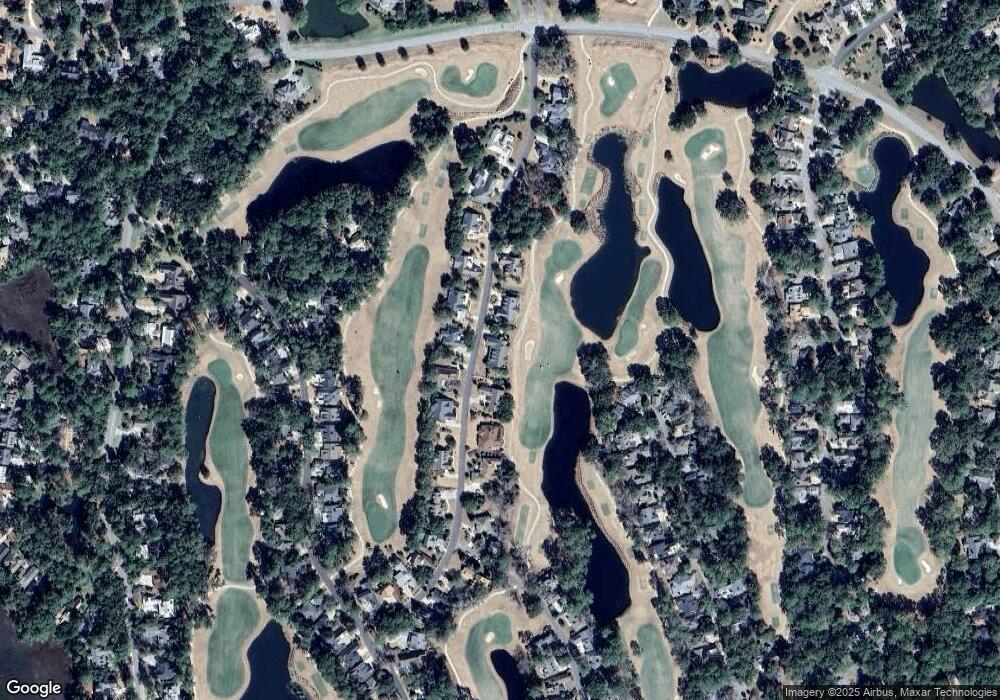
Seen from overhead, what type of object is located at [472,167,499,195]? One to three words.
house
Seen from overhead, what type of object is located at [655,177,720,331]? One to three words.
pond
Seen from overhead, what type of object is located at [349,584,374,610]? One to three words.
house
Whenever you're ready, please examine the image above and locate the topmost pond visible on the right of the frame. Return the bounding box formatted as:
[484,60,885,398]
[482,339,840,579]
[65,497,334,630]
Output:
[679,62,773,107]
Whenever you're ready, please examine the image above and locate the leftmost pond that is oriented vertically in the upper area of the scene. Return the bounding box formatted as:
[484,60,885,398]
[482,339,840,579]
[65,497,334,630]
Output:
[570,133,649,340]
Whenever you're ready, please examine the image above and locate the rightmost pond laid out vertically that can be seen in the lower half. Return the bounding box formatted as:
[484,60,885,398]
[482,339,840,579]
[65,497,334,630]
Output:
[542,380,630,622]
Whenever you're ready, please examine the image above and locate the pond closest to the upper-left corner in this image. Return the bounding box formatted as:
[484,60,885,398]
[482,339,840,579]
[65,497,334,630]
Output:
[300,0,368,37]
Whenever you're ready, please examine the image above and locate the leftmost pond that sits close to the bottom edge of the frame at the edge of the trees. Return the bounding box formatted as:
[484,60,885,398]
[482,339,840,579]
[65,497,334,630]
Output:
[238,619,304,700]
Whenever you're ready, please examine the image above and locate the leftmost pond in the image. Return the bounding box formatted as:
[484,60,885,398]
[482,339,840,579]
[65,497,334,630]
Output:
[186,376,222,548]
